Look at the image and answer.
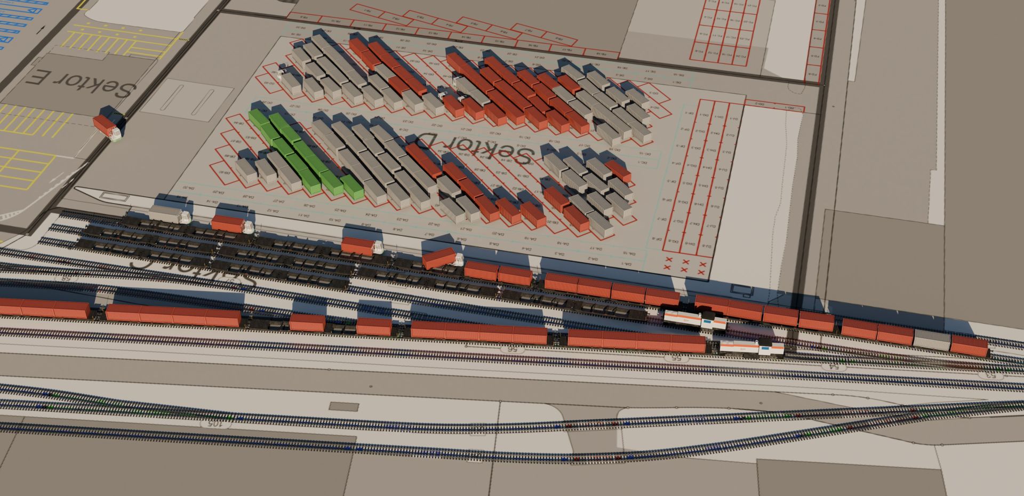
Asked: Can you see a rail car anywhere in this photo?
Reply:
Yes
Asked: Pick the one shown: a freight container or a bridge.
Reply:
freight container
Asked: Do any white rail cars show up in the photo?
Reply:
Yes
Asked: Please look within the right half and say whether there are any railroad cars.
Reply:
Yes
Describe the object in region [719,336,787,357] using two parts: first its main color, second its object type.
white rail car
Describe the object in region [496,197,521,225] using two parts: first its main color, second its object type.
red shipping container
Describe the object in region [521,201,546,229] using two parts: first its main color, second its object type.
red shipping container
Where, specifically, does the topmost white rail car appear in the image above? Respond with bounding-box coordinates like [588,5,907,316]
[662,308,729,331]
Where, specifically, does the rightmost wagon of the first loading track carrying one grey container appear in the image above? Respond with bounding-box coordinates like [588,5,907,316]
[836,324,995,358]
